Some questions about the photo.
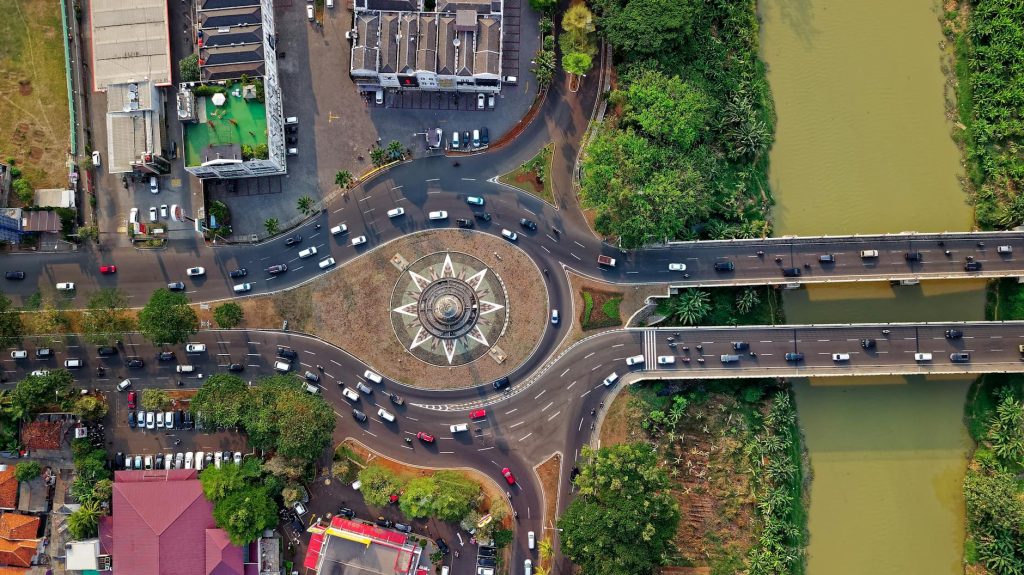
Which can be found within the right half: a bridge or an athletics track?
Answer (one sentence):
What appears within the right half is a bridge.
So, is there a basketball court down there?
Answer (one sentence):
No, no basketball court can be seen from above.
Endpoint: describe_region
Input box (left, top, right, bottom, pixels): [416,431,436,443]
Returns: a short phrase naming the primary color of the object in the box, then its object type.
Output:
red vehicle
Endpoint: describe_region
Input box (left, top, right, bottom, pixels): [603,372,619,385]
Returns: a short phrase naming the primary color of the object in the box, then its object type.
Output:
white vehicle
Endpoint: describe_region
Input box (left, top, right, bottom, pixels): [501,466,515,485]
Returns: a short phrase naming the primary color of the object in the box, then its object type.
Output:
red car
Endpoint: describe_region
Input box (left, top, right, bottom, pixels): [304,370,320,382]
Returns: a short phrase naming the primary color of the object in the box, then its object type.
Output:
gray vehicle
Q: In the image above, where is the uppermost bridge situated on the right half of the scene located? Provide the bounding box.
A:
[664,231,1024,290]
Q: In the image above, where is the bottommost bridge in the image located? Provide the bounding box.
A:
[626,320,1024,380]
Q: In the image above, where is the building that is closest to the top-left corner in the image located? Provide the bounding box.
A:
[92,0,171,92]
